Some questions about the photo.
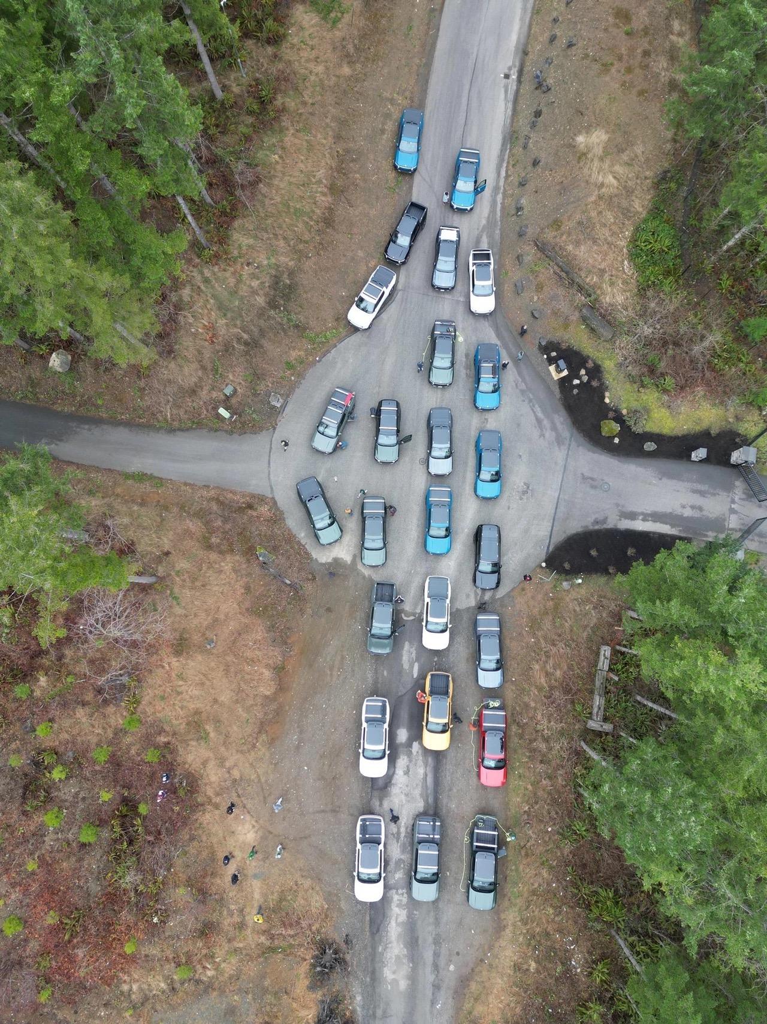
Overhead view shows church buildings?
No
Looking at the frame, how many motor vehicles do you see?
25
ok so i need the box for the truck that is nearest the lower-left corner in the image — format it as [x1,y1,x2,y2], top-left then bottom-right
[352,815,386,900]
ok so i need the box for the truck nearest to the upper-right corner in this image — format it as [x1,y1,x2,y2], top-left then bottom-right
[452,148,493,213]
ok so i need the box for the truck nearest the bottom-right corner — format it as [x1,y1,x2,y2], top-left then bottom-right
[466,819,501,912]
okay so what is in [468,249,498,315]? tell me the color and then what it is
white truck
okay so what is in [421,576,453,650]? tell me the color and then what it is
white truck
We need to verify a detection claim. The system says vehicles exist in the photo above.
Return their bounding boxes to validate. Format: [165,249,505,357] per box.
[466,819,501,912]
[352,815,386,900]
[409,815,443,901]
[425,406,456,476]
[364,580,411,655]
[452,148,493,213]
[472,523,504,591]
[477,701,511,788]
[432,226,461,292]
[313,385,354,456]
[358,495,389,567]
[395,109,423,172]
[423,484,455,556]
[468,249,498,315]
[358,697,391,777]
[372,399,415,464]
[421,672,454,751]
[474,613,507,688]
[387,201,427,267]
[421,576,453,650]
[473,343,504,411]
[350,265,397,331]
[473,429,505,500]
[427,319,458,388]
[298,475,340,548]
